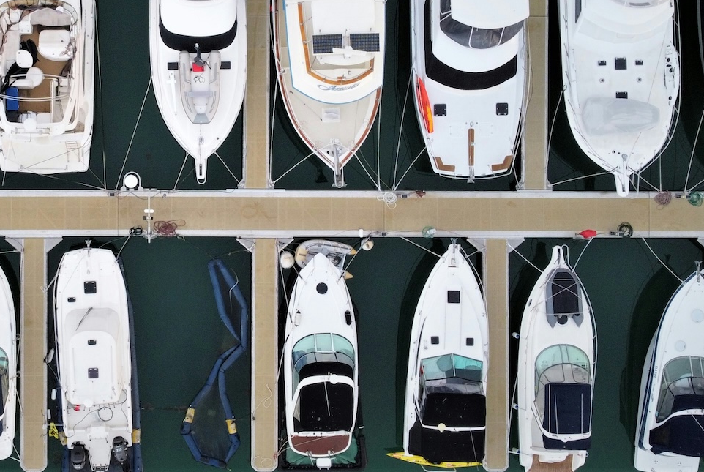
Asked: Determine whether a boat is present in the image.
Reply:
Yes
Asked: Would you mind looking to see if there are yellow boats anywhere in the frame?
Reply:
Yes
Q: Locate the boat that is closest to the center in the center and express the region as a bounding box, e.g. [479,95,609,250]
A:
[291,238,358,281]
